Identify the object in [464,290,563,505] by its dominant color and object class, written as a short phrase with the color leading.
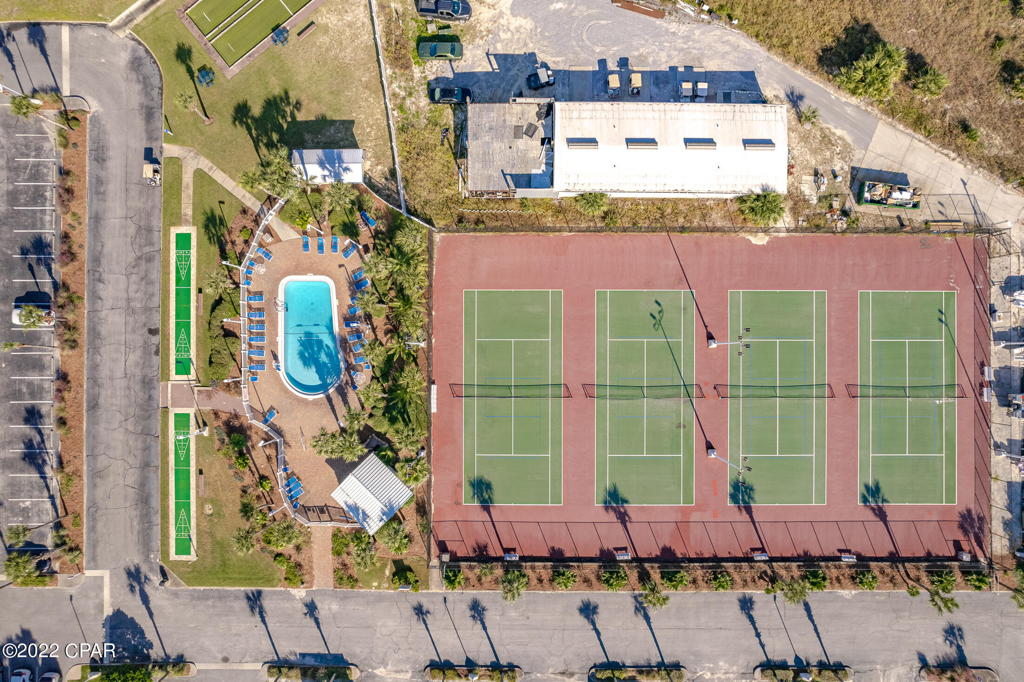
green tennis court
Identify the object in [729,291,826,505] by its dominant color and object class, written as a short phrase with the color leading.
green tennis court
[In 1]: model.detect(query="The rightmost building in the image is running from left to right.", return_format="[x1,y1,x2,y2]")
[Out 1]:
[553,101,791,197]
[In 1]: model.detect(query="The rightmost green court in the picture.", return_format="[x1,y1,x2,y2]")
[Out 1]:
[859,291,956,504]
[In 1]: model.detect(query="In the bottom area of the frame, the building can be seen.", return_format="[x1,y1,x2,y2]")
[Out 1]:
[331,452,413,535]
